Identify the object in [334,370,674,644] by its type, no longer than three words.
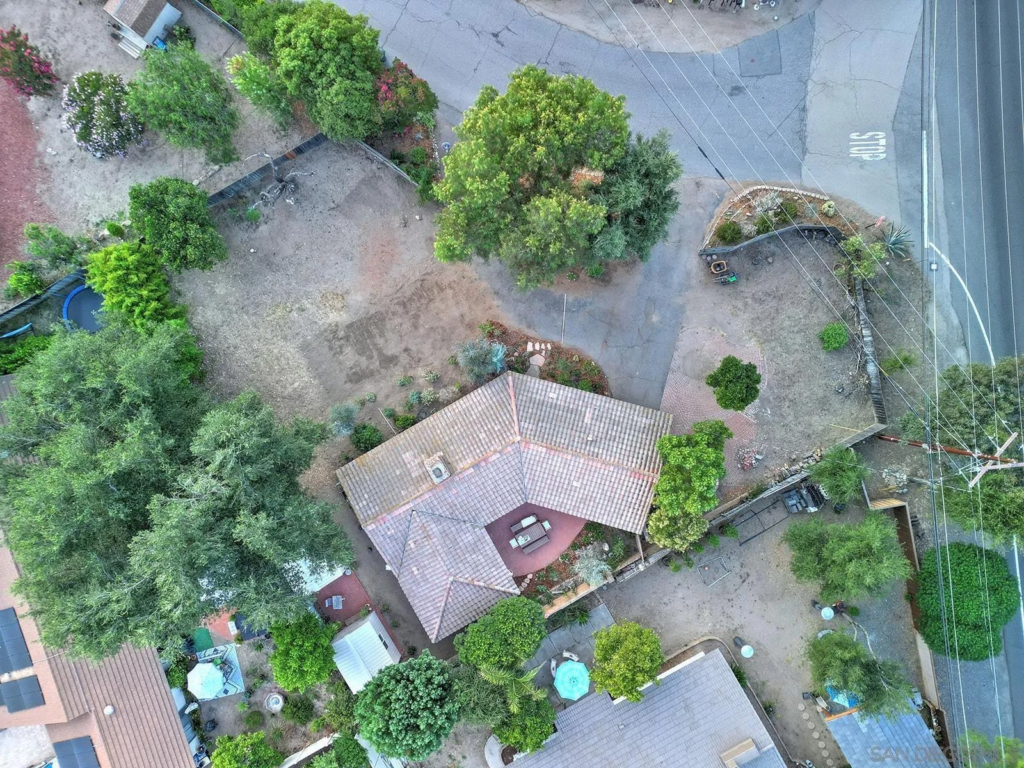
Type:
house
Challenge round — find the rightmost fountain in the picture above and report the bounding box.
[263,693,284,714]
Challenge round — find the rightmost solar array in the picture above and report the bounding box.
[54,735,100,768]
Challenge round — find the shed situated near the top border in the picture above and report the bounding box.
[103,0,189,59]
